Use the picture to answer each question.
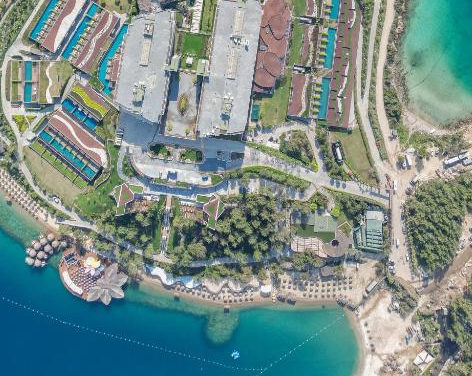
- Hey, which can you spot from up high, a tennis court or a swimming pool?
swimming pool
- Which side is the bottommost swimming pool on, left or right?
left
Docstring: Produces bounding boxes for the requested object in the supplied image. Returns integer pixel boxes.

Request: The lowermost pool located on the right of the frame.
[317,77,330,119]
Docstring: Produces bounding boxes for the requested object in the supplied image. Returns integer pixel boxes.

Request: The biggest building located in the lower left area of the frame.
[59,248,129,306]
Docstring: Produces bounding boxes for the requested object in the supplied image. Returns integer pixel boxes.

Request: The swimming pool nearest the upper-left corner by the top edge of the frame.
[29,0,60,41]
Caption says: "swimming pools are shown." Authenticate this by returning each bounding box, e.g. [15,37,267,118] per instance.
[83,116,98,131]
[322,29,336,70]
[328,0,340,21]
[97,24,128,94]
[317,77,330,119]
[72,107,86,122]
[29,0,60,41]
[62,98,75,114]
[23,83,32,103]
[62,14,92,60]
[39,128,98,179]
